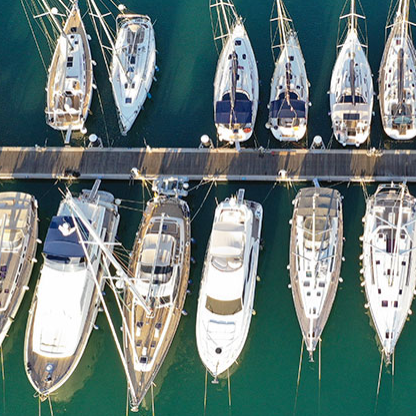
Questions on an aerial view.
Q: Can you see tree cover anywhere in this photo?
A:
No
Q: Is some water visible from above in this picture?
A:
Yes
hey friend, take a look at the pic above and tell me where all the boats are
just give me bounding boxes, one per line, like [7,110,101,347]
[264,0,310,141]
[81,0,152,135]
[208,0,258,147]
[12,183,128,409]
[62,190,188,416]
[0,188,34,352]
[288,182,341,360]
[362,182,416,366]
[21,0,93,143]
[329,0,373,150]
[193,190,263,385]
[379,0,416,140]
[149,174,196,194]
